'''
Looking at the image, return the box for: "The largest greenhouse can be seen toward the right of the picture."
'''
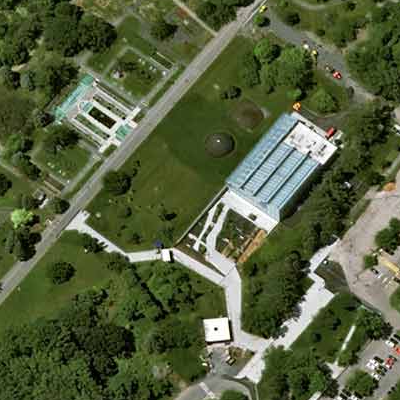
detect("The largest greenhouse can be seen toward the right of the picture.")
[221,109,337,232]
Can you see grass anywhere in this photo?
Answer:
Yes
